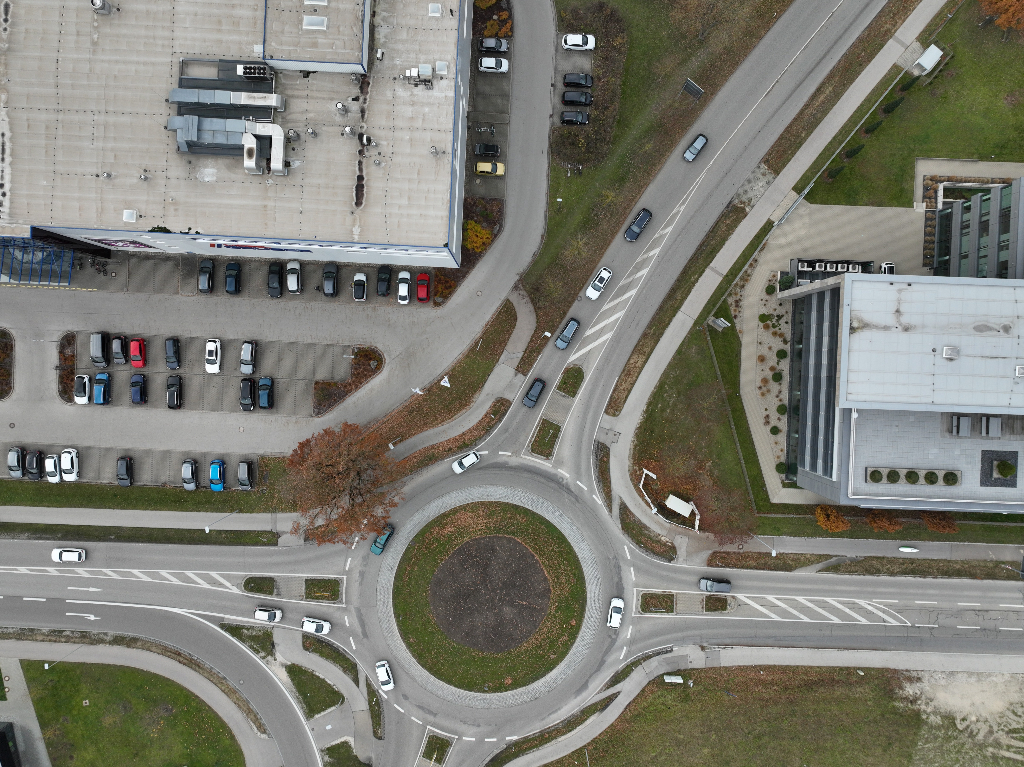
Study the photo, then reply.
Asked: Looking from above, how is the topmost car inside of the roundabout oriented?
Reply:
diagonally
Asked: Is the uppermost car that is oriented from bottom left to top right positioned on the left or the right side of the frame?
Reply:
right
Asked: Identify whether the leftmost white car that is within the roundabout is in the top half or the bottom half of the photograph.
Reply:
bottom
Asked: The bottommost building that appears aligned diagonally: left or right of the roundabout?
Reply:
on its right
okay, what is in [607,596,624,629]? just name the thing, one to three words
car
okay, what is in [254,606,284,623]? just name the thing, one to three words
car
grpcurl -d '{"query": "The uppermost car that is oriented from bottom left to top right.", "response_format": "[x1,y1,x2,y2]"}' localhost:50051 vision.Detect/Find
[683,133,709,164]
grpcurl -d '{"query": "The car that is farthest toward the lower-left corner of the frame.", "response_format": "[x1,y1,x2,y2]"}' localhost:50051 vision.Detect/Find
[53,547,88,564]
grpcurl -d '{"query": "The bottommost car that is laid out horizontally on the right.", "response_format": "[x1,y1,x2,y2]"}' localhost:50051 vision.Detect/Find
[698,577,731,593]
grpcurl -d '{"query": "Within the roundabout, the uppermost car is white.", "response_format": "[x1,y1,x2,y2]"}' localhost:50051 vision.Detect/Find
[452,450,480,473]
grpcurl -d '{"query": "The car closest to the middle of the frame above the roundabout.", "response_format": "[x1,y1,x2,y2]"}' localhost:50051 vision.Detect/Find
[523,377,546,408]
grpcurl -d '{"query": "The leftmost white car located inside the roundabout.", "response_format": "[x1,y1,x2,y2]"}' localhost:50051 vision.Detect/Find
[375,659,395,690]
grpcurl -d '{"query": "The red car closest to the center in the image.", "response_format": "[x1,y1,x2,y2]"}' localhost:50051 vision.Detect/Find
[415,273,431,303]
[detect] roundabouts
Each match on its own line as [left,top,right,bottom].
[342,449,637,744]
